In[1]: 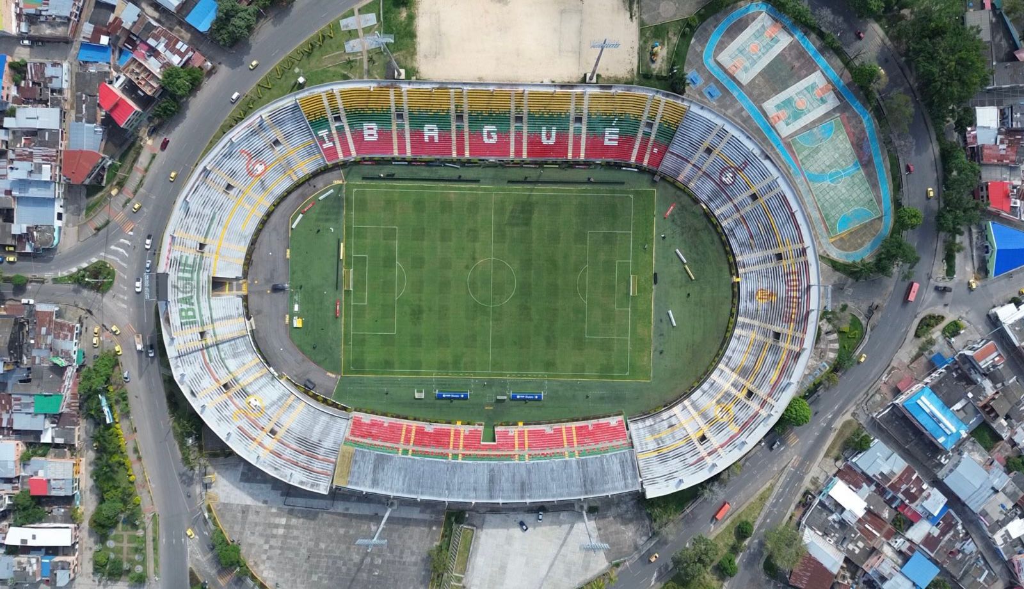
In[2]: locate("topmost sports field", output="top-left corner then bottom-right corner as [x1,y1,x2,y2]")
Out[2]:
[343,184,655,381]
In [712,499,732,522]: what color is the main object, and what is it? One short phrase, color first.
red bus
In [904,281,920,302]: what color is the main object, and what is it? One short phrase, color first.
red vehicle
